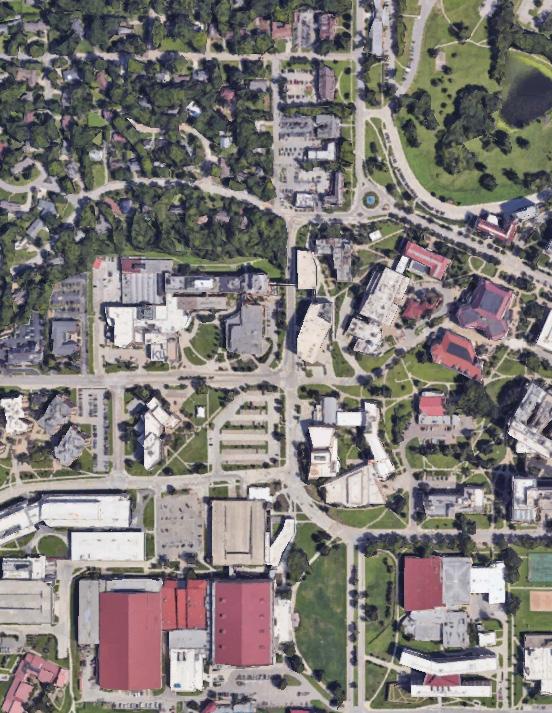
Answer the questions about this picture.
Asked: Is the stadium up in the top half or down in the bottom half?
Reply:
bottom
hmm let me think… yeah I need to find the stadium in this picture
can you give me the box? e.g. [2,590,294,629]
[212,501,269,565]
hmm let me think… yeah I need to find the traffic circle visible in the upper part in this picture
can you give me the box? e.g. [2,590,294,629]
[349,169,393,223]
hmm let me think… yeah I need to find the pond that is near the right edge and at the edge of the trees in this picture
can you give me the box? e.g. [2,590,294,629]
[500,53,552,127]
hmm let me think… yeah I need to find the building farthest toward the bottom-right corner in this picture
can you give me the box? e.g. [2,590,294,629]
[523,634,552,695]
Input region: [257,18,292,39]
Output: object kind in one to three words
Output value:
house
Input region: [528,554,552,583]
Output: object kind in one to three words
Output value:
tennis court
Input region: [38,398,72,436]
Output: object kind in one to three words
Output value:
building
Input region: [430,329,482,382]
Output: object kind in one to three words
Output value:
building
